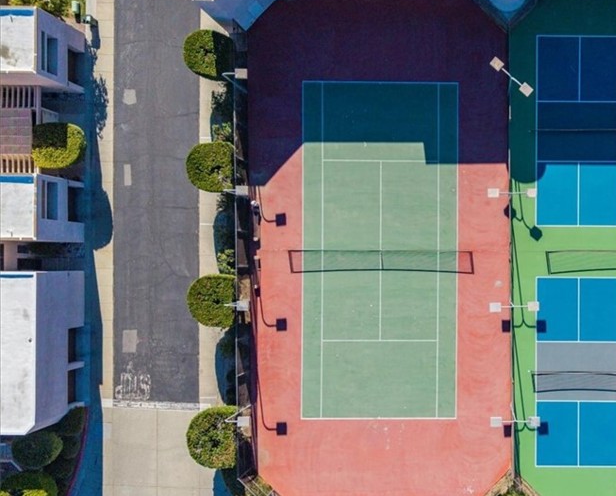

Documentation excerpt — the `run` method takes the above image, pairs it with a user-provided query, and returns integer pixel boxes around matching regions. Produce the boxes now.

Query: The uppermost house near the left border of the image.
[0,5,84,94]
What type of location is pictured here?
sports ground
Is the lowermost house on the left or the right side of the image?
left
